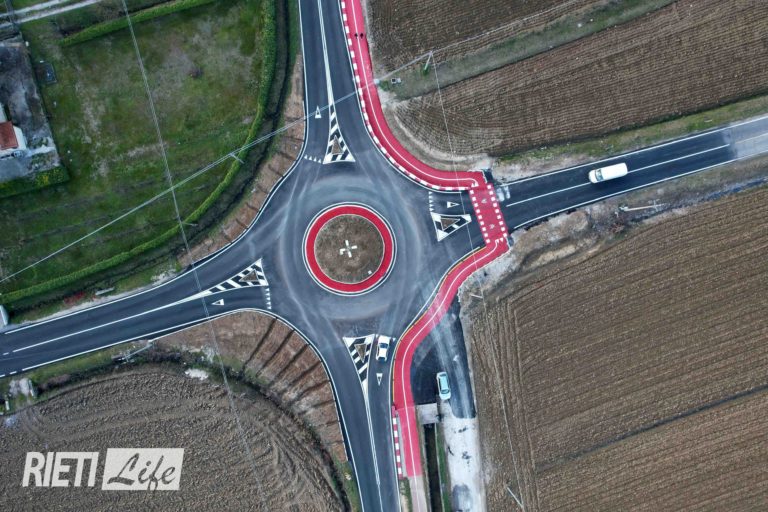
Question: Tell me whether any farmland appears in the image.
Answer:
Yes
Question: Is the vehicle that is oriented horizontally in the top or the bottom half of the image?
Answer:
top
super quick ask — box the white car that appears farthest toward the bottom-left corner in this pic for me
[376,335,389,361]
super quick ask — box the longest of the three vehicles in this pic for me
[589,162,631,183]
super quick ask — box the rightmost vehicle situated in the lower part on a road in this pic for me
[437,373,452,399]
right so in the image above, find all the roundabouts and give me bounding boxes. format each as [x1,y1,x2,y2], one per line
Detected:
[152,102,479,459]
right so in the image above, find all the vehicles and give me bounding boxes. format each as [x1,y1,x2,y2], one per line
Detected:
[376,335,389,361]
[437,373,452,399]
[589,162,631,183]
